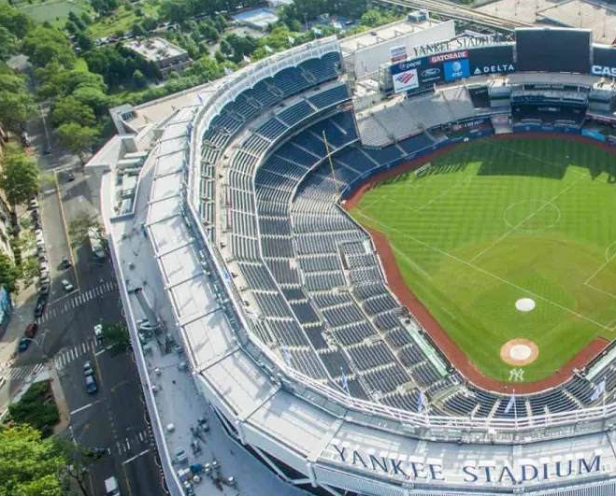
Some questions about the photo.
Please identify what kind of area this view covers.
sports ground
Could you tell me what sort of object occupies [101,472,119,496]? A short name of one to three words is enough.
vehicle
